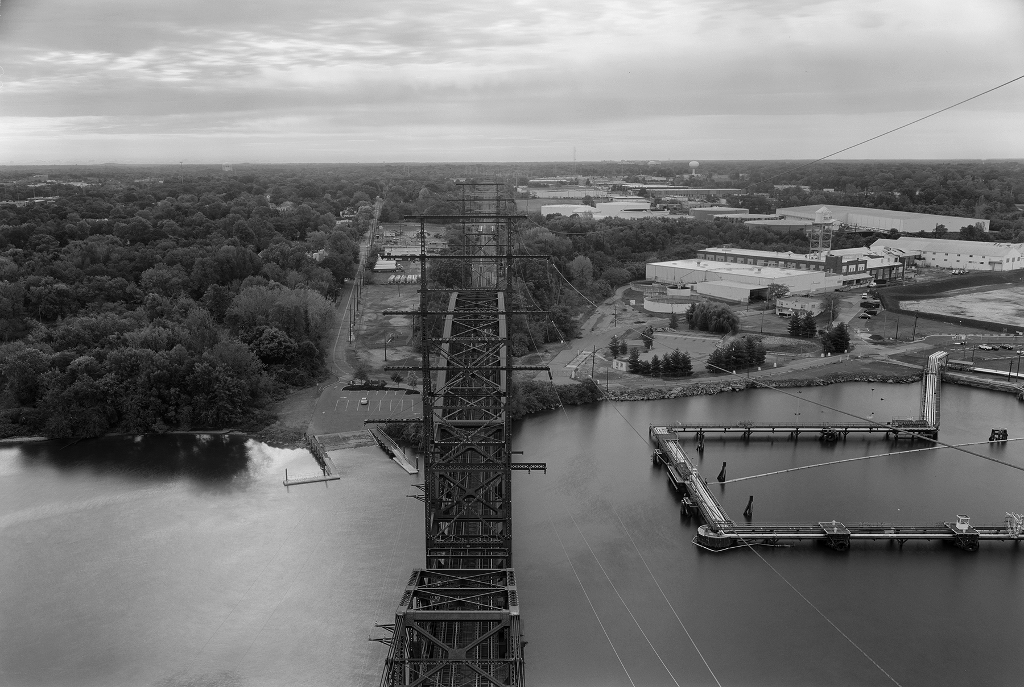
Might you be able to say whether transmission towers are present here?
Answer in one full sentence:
Yes, the image includes a transmission tower.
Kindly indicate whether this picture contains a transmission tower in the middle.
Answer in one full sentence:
Yes, there is a transmission tower in the middle.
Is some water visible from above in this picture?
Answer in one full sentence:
Yes, water shows up in the scene.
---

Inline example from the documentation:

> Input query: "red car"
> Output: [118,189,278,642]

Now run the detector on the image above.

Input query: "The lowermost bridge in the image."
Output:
[369,564,531,687]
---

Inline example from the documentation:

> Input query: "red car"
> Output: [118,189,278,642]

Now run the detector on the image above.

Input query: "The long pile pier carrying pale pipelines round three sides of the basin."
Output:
[649,346,1024,559]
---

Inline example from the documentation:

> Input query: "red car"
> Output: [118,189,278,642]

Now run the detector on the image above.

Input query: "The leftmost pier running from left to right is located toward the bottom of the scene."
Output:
[284,466,340,488]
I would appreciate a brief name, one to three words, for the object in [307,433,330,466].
pier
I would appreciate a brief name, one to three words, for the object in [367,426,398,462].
pier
